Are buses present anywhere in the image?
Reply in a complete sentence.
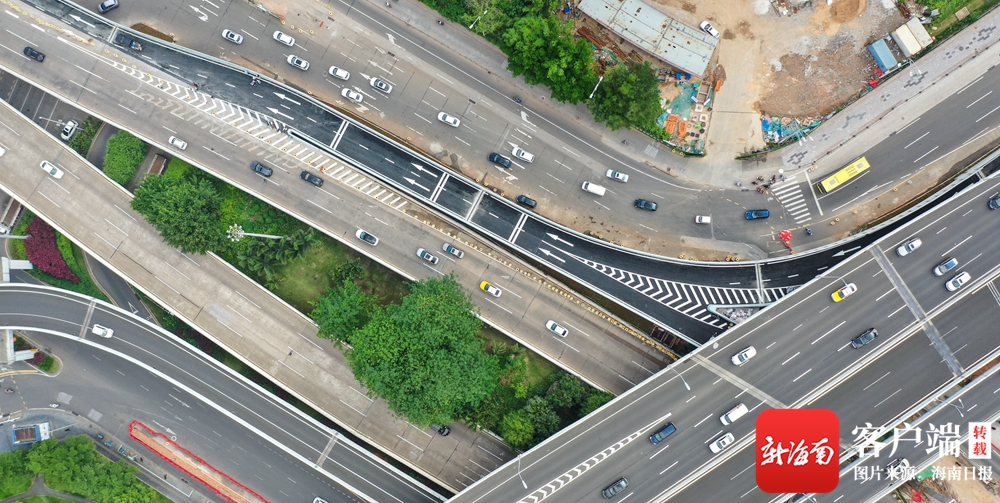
Yes, the picture does show a bus.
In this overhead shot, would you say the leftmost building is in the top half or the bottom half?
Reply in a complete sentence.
Seen from above, the leftmost building lies in the top half of the view.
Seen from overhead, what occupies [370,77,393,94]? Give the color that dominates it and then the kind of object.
white car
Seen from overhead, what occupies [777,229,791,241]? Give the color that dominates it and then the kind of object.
red umbrella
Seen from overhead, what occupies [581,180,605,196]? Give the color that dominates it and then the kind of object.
white vehicle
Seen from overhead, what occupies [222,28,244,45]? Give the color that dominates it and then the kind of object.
white car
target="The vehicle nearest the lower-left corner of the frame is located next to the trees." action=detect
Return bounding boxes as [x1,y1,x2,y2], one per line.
[12,424,51,444]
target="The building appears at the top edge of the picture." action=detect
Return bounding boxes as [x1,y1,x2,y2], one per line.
[566,0,720,78]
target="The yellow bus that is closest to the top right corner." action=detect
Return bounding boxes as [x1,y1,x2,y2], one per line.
[813,158,869,194]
